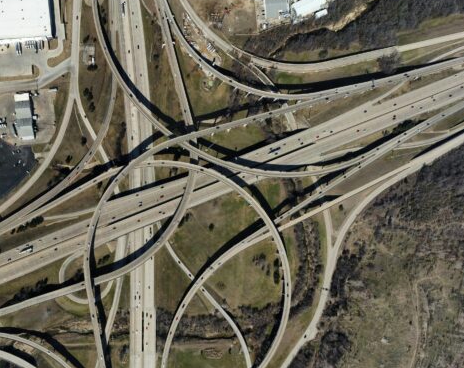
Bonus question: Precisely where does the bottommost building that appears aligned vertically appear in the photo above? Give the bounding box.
[15,92,35,141]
